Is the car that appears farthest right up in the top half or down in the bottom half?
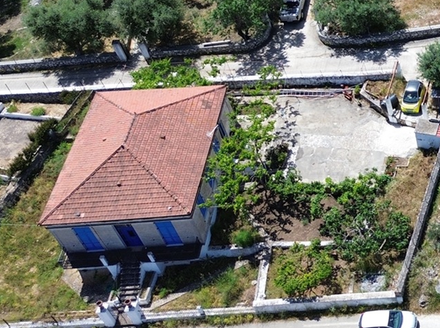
top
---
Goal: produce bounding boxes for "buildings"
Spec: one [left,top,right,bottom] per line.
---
[415,117,440,155]
[38,83,231,320]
